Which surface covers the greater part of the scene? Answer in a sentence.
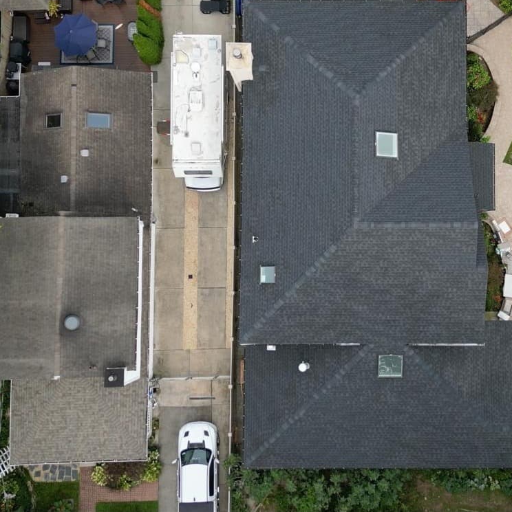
Most of the picture is covered by buildings.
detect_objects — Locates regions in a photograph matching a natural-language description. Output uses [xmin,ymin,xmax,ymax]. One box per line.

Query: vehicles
[172,32,230,193]
[172,419,222,512]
